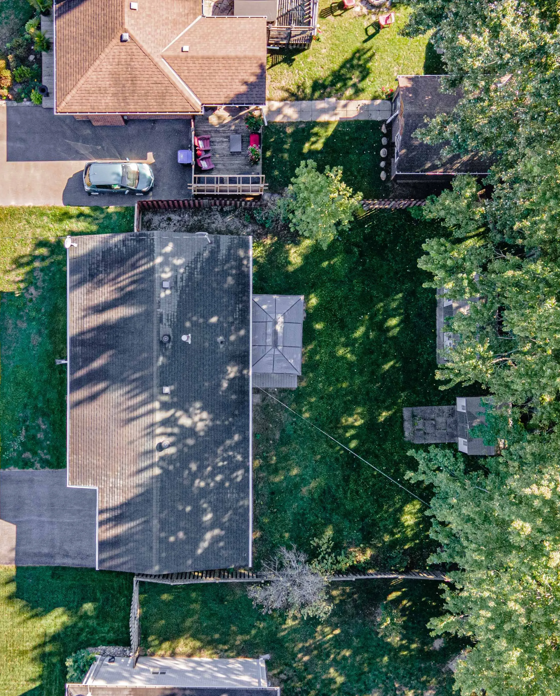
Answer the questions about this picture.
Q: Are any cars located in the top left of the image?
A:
Yes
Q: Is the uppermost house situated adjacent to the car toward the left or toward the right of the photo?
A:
left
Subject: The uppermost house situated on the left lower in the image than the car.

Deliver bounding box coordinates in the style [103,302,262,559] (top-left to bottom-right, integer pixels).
[65,232,253,574]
